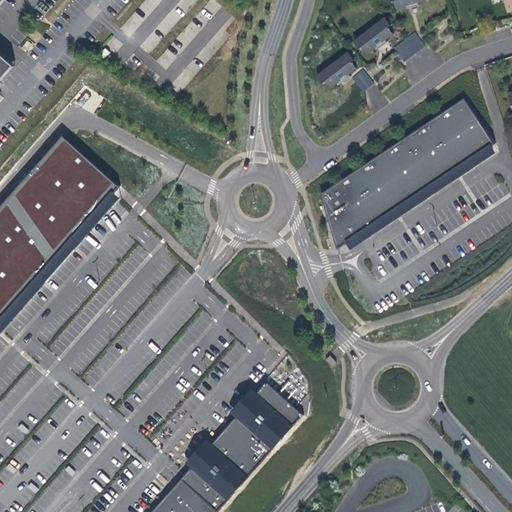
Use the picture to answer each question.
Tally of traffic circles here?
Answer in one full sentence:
I count 2 traffic circles.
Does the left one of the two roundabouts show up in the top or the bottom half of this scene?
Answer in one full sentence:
It is in the top half that the left one of the two roundabouts appears.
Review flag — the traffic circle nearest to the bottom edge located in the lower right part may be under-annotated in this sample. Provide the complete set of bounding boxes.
[340,332,442,459]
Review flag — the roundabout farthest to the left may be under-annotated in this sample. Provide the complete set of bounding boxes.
[206,94,317,258]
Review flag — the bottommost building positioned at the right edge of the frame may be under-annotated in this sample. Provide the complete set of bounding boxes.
[322,98,500,254]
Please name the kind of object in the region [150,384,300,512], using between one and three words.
building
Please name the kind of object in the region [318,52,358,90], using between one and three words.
house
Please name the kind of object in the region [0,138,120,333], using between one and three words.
building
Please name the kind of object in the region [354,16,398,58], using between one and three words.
house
